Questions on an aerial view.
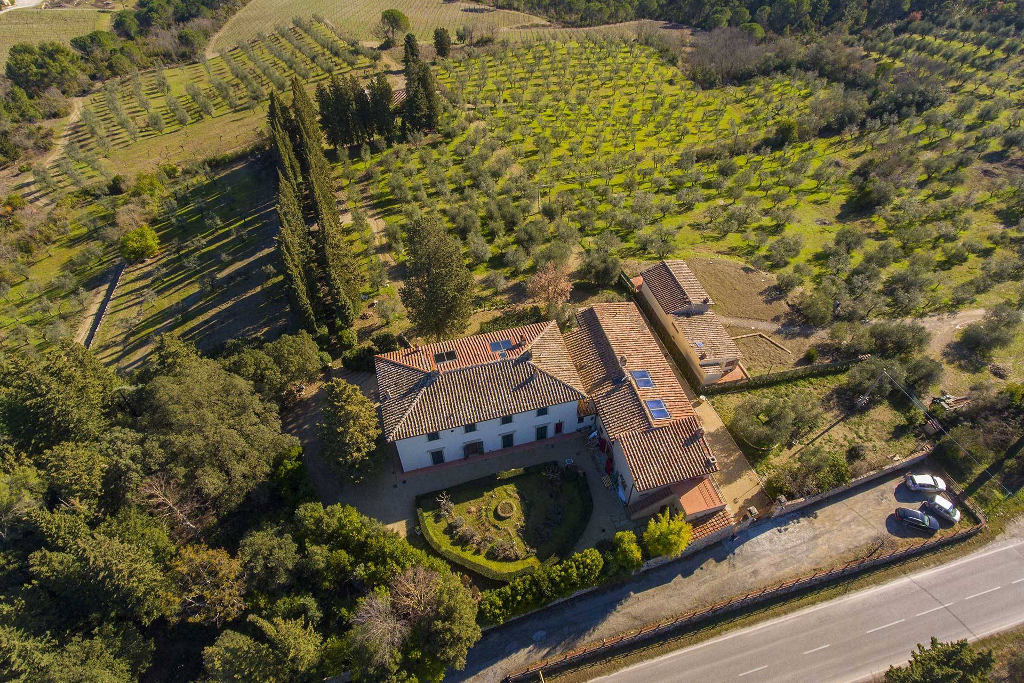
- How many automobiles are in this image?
3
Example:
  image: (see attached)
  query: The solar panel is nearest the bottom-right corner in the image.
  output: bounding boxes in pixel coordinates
[647,398,671,419]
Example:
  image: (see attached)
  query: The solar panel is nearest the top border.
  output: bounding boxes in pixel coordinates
[632,370,656,388]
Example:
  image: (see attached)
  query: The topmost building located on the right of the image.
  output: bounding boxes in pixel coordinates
[634,257,758,394]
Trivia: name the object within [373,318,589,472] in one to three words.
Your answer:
house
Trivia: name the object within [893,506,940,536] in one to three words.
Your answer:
car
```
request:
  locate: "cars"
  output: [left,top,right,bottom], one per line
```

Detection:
[893,506,940,536]
[903,475,947,496]
[921,493,964,525]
